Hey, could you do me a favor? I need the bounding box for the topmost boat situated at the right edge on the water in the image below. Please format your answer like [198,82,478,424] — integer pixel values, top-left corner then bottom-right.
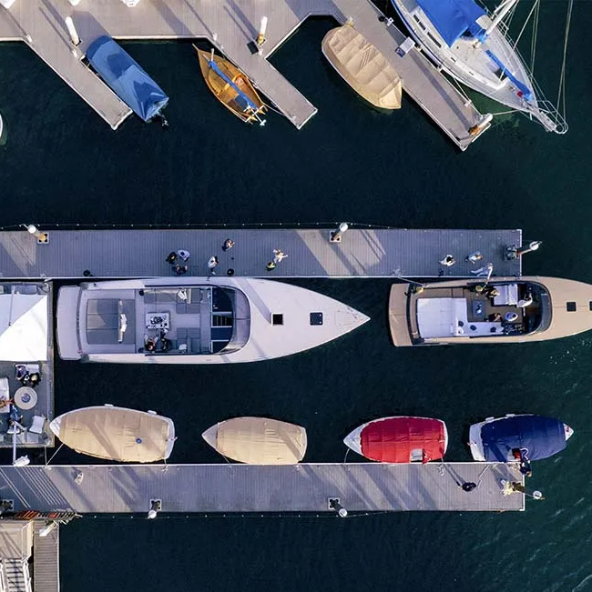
[373,0,576,130]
